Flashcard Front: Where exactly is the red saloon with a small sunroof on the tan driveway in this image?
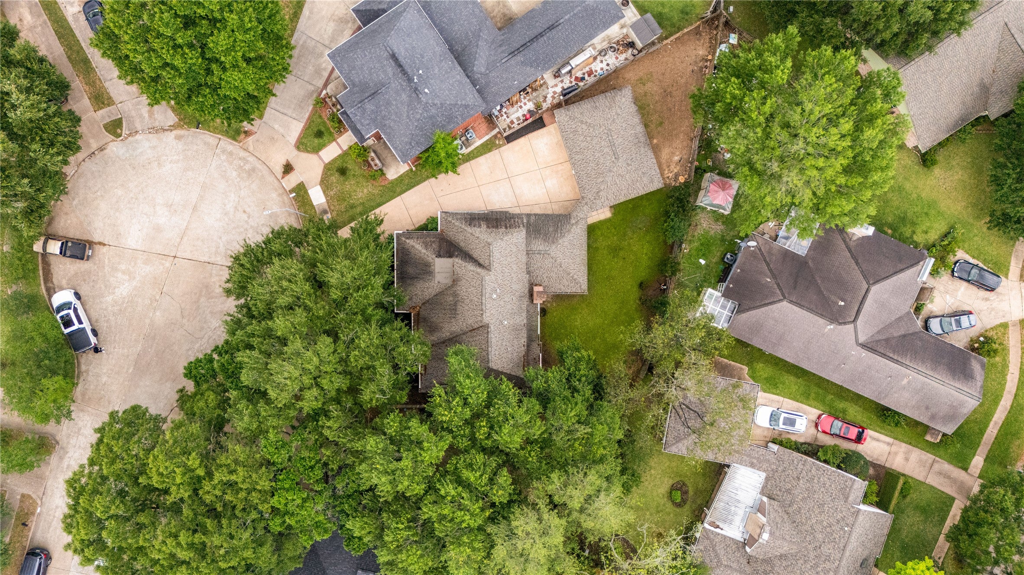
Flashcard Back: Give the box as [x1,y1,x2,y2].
[813,414,870,445]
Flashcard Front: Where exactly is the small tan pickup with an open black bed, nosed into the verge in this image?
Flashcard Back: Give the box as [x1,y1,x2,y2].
[34,234,96,263]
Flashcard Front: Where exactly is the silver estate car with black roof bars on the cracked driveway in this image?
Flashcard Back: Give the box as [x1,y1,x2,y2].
[923,306,979,335]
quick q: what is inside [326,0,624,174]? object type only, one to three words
house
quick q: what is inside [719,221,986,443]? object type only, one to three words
house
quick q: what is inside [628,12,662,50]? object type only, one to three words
shed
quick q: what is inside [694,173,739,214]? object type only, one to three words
gazebo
